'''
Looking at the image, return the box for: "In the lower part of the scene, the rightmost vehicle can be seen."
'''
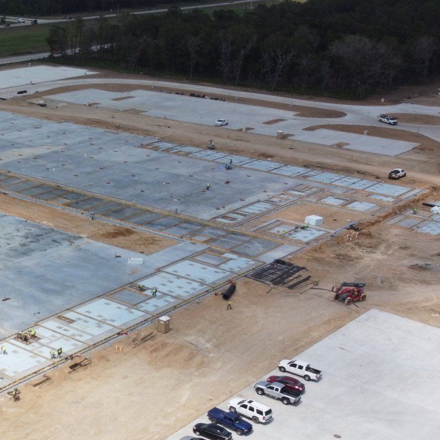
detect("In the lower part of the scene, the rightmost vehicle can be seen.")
[332,281,368,305]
